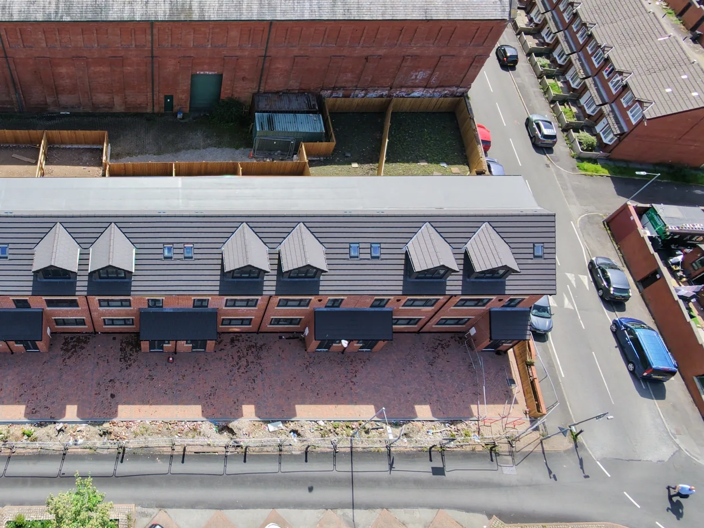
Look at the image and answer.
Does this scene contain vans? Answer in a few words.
Yes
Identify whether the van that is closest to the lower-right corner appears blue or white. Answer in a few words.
blue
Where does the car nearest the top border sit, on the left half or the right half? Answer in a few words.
right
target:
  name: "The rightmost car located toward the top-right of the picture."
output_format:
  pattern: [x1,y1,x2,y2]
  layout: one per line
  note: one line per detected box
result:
[522,113,564,152]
